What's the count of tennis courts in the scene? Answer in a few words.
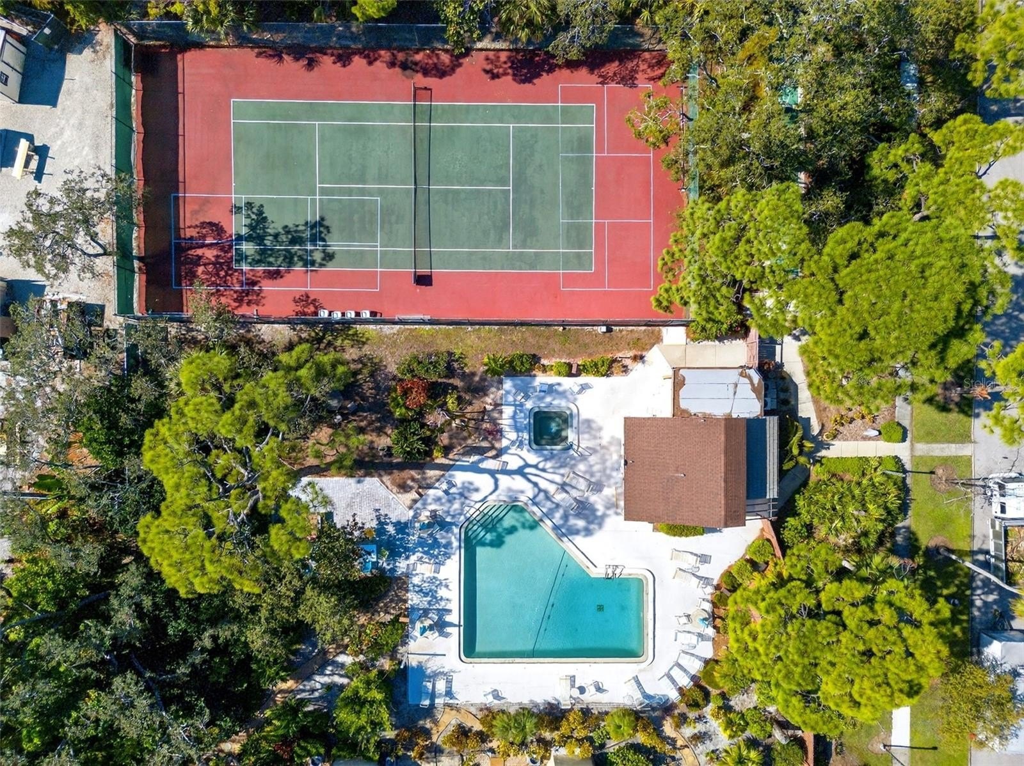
one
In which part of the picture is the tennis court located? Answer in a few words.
top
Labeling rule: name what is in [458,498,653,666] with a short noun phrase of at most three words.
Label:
swimming pool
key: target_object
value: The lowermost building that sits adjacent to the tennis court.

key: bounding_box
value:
[623,364,779,527]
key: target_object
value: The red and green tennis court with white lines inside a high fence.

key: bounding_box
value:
[133,45,691,320]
